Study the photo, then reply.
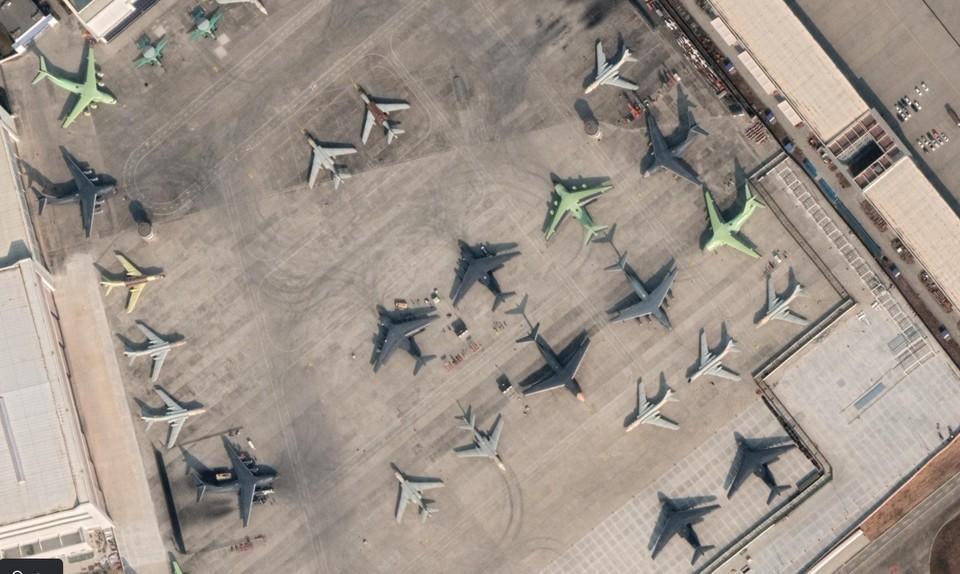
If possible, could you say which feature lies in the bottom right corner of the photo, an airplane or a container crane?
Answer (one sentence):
There is an airplane in the bottom right corner of the photo.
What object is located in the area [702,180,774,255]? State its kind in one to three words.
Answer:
airplane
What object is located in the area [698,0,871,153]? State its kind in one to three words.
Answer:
hangar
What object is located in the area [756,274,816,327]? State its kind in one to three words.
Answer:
airplane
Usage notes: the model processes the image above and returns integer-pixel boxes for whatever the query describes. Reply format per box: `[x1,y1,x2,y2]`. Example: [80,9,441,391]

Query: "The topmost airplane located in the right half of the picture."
[585,39,645,93]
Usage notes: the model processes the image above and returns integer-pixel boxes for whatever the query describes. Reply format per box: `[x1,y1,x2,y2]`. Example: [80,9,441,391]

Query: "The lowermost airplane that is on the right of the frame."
[653,503,722,567]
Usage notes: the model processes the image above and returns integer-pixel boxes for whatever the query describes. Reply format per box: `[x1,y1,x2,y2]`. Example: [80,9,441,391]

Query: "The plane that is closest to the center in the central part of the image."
[454,250,522,314]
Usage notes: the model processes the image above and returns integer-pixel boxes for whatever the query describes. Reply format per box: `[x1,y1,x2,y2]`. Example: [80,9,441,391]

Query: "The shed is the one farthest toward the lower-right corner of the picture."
[810,531,870,574]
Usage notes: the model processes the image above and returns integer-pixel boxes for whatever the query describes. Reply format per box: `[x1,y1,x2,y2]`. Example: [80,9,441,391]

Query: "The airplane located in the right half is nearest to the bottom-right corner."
[729,444,798,508]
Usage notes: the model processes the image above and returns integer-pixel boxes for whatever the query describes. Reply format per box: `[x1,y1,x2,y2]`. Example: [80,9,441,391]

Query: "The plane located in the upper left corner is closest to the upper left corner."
[32,47,117,128]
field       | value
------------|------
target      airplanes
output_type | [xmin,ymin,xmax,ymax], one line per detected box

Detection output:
[190,8,225,41]
[137,388,204,449]
[94,251,164,313]
[585,39,645,93]
[397,474,445,527]
[218,0,265,11]
[626,380,685,432]
[608,253,680,328]
[688,330,747,383]
[31,144,115,239]
[547,185,615,248]
[119,324,187,384]
[194,433,276,528]
[32,47,117,128]
[653,503,722,567]
[518,324,592,399]
[643,109,710,185]
[702,180,774,255]
[309,140,358,191]
[375,314,441,378]
[457,415,505,471]
[362,96,411,146]
[729,444,798,508]
[454,250,522,314]
[756,274,816,327]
